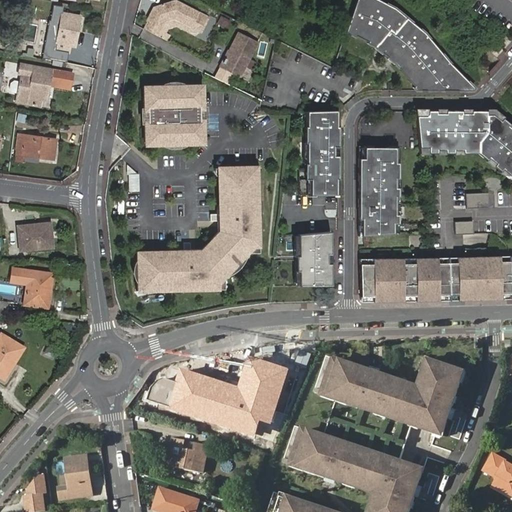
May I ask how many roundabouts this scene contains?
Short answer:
1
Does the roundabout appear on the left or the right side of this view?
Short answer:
left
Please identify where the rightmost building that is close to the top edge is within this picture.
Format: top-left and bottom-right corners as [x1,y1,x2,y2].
[349,0,477,90]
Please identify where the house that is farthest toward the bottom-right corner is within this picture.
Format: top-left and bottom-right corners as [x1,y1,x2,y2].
[482,452,512,498]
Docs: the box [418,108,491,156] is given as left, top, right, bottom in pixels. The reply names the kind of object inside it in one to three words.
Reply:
building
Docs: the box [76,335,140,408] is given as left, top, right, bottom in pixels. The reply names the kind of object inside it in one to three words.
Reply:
roundabout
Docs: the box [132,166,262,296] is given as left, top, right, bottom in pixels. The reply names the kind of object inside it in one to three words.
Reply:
building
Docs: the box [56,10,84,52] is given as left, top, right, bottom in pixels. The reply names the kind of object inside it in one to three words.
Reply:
house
